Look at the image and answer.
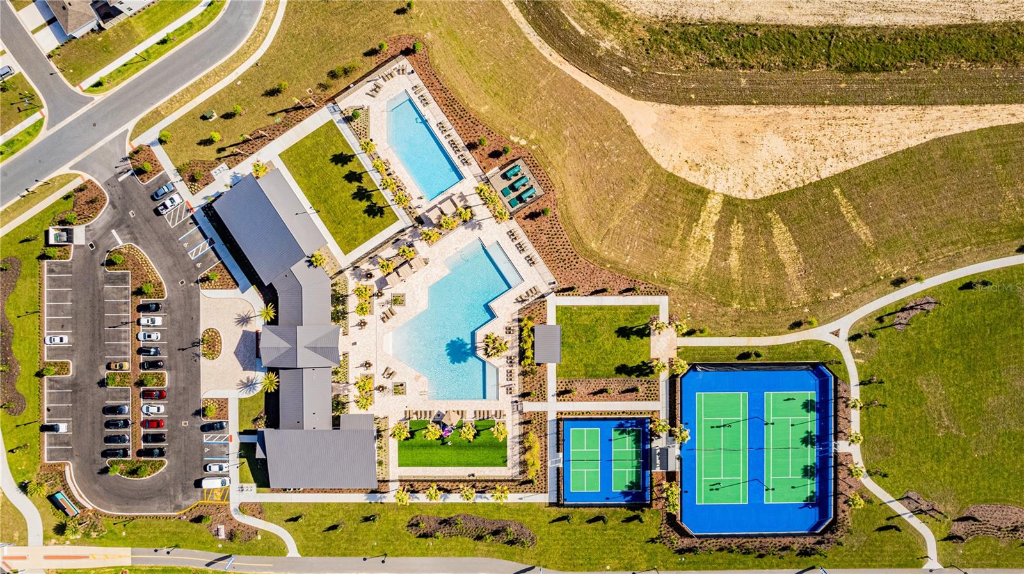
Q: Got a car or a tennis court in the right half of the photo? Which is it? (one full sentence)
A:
The one visible in the right half of the photo is a tennis court.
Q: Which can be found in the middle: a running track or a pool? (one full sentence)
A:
What appears in the middle is a pool.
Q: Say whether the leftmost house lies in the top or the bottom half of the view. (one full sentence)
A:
The leftmost house is in the top half of the image.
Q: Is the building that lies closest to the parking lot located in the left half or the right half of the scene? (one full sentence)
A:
You can find the building that lies closest to the parking lot on the left side of the picture.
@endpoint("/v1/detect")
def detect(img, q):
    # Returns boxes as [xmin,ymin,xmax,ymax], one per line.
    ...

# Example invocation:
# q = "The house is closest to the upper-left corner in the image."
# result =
[46,0,102,36]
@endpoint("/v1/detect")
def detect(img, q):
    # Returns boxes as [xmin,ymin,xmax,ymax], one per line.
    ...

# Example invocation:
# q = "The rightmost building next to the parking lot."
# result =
[212,168,378,489]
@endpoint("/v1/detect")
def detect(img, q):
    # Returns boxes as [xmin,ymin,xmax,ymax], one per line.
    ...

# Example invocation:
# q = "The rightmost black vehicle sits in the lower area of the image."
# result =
[202,420,227,432]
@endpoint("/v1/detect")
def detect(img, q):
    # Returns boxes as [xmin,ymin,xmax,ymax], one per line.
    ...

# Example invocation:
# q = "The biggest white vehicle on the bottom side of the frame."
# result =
[200,475,231,489]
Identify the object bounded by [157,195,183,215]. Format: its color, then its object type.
white vehicle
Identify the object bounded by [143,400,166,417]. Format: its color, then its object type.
white car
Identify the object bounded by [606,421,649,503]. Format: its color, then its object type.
green sports court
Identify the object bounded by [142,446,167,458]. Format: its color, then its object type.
black vehicle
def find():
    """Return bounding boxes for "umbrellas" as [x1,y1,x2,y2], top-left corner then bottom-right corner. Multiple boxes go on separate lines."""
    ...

[443,408,461,426]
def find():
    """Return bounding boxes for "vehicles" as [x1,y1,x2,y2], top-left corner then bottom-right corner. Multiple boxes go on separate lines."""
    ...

[142,446,167,458]
[143,400,166,417]
[46,335,69,345]
[143,433,167,444]
[109,361,132,371]
[139,346,163,357]
[157,195,183,215]
[140,316,164,327]
[45,423,69,433]
[138,302,162,313]
[141,359,165,370]
[142,419,165,429]
[200,475,231,489]
[142,389,166,400]
[106,419,130,430]
[106,434,130,444]
[138,331,161,341]
[104,448,131,459]
[207,462,230,473]
[202,420,227,432]
[0,64,16,80]
[153,182,176,200]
